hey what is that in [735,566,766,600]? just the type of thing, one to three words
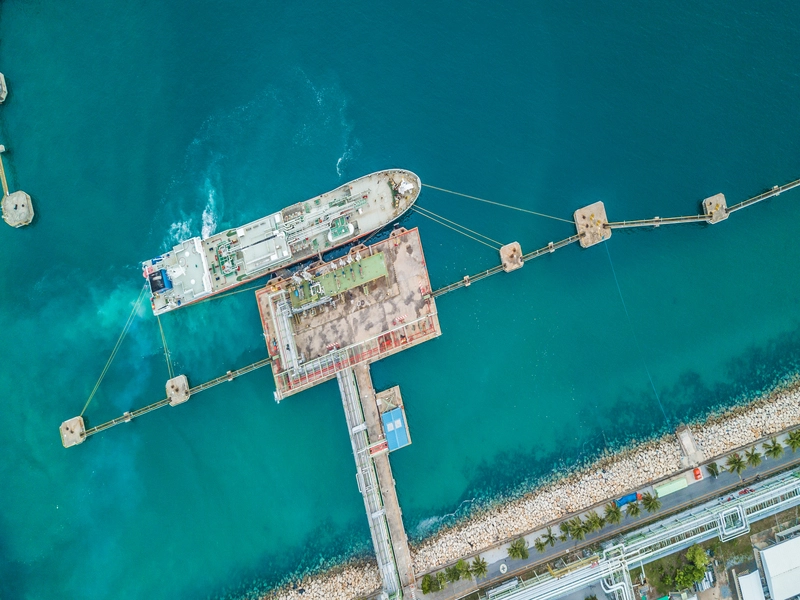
shed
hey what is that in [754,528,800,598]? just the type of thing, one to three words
building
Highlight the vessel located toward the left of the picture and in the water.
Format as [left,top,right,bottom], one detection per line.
[141,168,421,316]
